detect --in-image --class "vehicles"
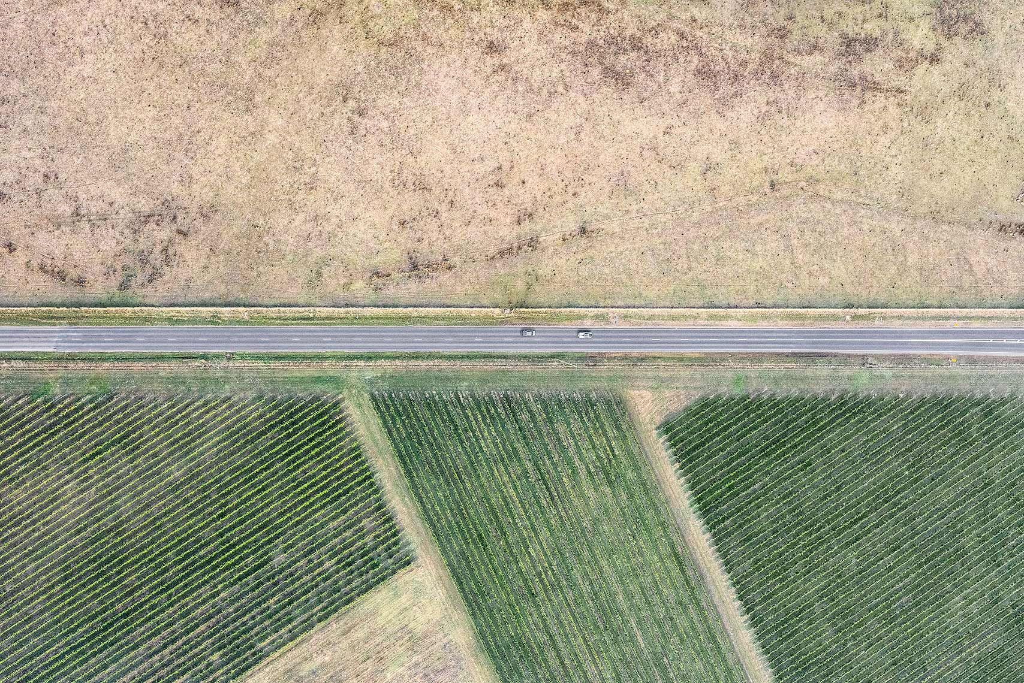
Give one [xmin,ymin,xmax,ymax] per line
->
[578,332,592,338]
[521,330,536,336]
